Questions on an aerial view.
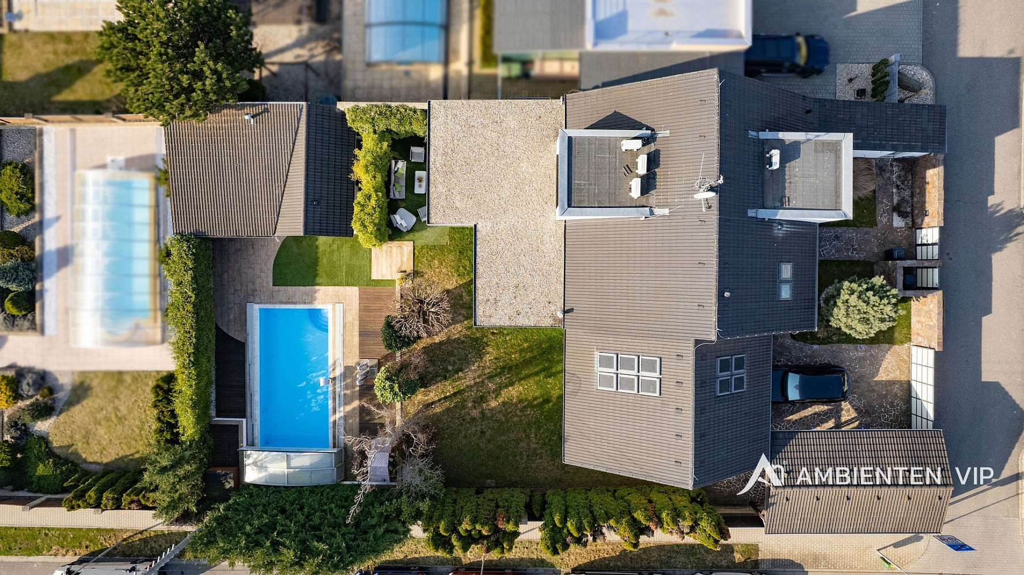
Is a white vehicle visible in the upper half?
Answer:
No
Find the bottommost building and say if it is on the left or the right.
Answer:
right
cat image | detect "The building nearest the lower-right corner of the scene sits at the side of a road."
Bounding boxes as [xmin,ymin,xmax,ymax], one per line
[751,425,954,534]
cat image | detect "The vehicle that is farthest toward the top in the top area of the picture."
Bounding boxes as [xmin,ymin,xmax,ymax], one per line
[744,30,825,79]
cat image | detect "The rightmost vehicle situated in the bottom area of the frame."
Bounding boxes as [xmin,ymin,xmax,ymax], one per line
[773,361,846,407]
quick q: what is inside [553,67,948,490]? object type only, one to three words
house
